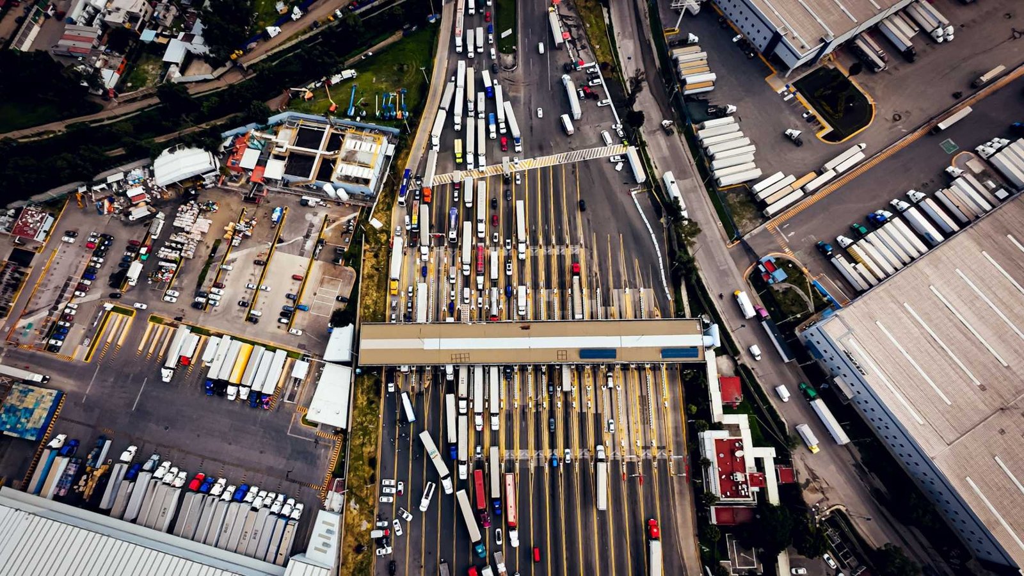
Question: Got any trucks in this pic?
Yes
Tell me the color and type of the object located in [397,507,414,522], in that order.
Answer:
white vehicle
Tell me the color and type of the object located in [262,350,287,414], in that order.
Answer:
white truck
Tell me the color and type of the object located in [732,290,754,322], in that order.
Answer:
white truck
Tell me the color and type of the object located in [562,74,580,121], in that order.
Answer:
white vehicle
